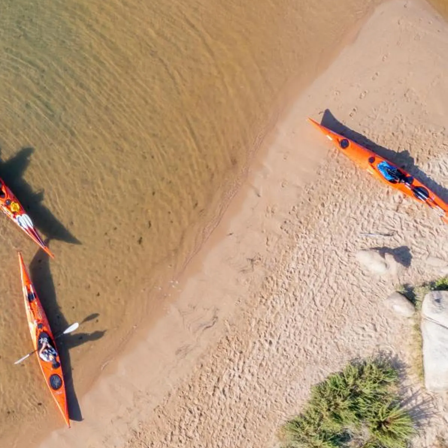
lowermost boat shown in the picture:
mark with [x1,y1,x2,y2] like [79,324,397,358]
[18,252,69,428]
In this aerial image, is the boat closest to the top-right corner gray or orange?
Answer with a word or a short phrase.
orange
